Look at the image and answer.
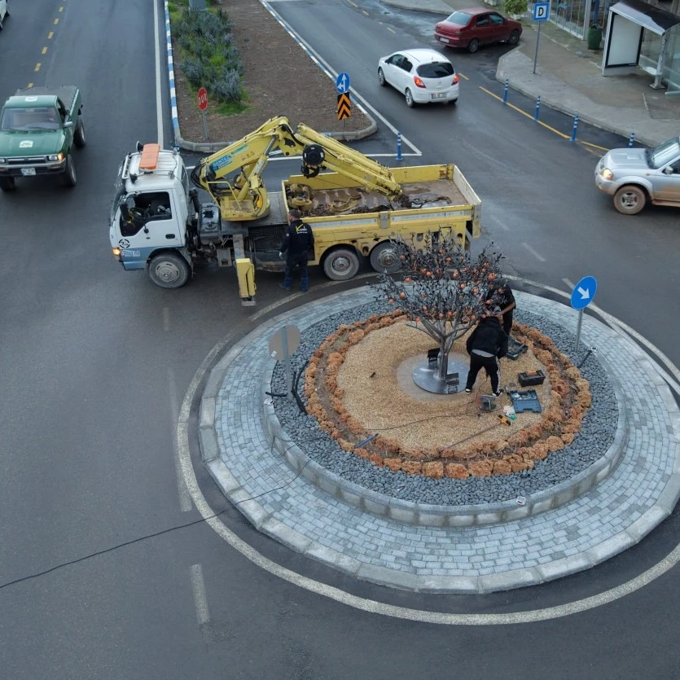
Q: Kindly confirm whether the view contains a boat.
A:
No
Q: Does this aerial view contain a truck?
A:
Yes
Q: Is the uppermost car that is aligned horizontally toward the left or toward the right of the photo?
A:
right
